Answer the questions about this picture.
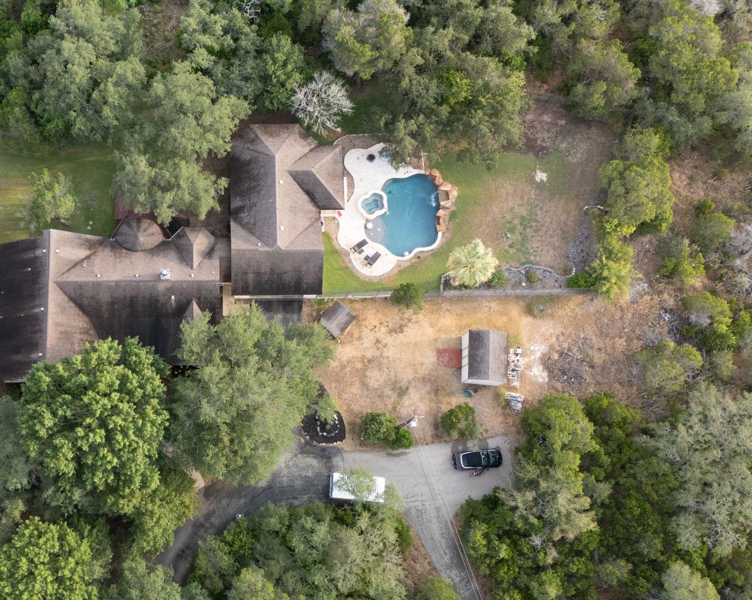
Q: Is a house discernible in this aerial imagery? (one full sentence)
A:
Yes, this view includes a house.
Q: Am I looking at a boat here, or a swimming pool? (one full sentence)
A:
Looking from above, you can make out a swimming pool.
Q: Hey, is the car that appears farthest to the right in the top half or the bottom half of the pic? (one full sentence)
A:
Seen from above, the car that appears farthest to the right lies in the bottom half of the view.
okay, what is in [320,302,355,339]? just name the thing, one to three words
shed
